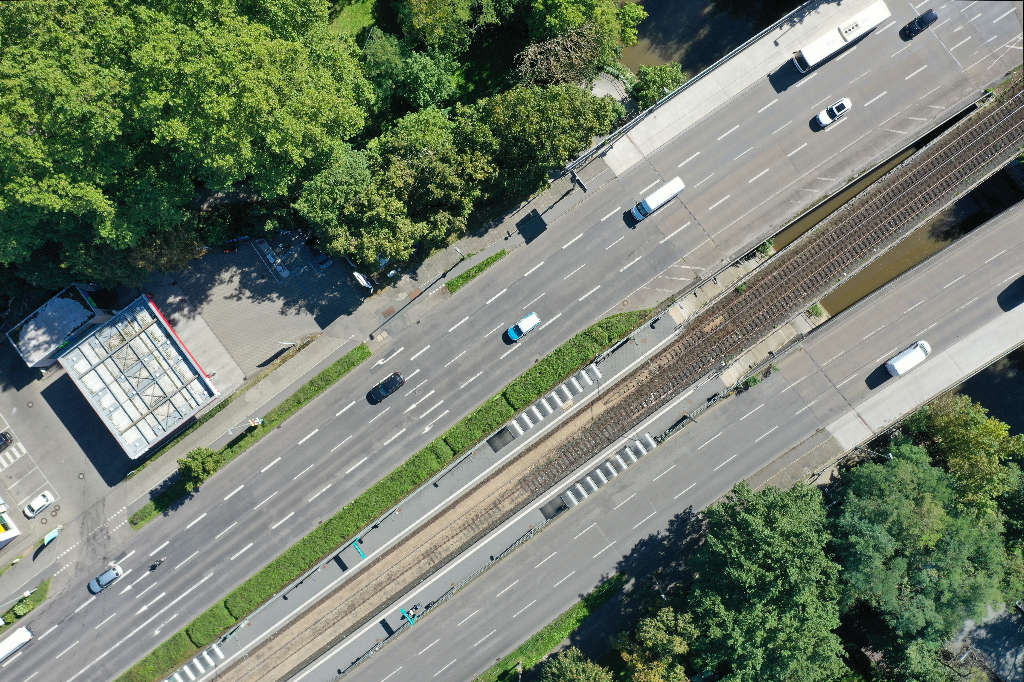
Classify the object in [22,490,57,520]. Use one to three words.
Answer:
car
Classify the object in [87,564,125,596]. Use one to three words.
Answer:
car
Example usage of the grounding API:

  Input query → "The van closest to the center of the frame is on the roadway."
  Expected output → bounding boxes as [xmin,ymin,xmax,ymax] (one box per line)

[505,310,543,342]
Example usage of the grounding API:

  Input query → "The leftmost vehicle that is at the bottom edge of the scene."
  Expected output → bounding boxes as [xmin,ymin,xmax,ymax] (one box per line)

[0,628,32,665]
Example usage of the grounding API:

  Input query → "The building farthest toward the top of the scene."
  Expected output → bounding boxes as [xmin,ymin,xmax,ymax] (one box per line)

[6,283,125,367]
